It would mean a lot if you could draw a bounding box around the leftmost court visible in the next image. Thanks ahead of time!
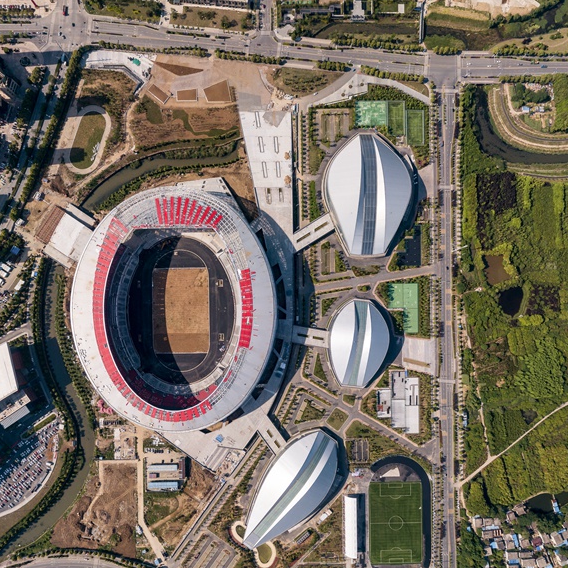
[355,99,388,127]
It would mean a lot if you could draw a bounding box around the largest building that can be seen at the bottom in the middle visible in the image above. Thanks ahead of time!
[240,426,338,548]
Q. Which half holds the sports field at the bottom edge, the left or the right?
right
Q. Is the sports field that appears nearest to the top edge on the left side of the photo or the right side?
left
